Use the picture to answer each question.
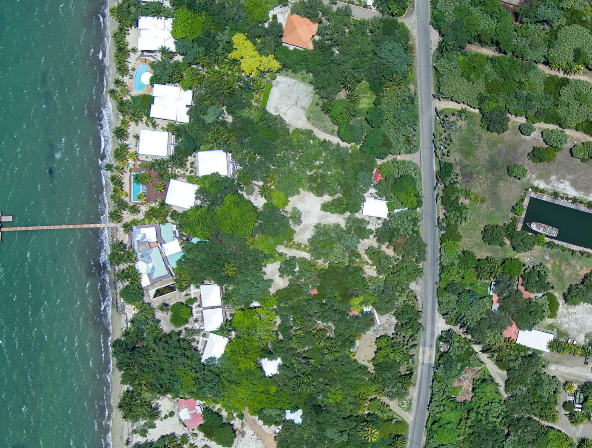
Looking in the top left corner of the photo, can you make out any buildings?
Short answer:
Yes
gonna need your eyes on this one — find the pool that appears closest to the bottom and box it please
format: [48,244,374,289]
[151,283,179,298]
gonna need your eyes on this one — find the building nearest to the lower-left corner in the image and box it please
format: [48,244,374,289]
[179,398,205,429]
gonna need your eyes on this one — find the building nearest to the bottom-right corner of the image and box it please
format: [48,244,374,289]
[517,329,554,353]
